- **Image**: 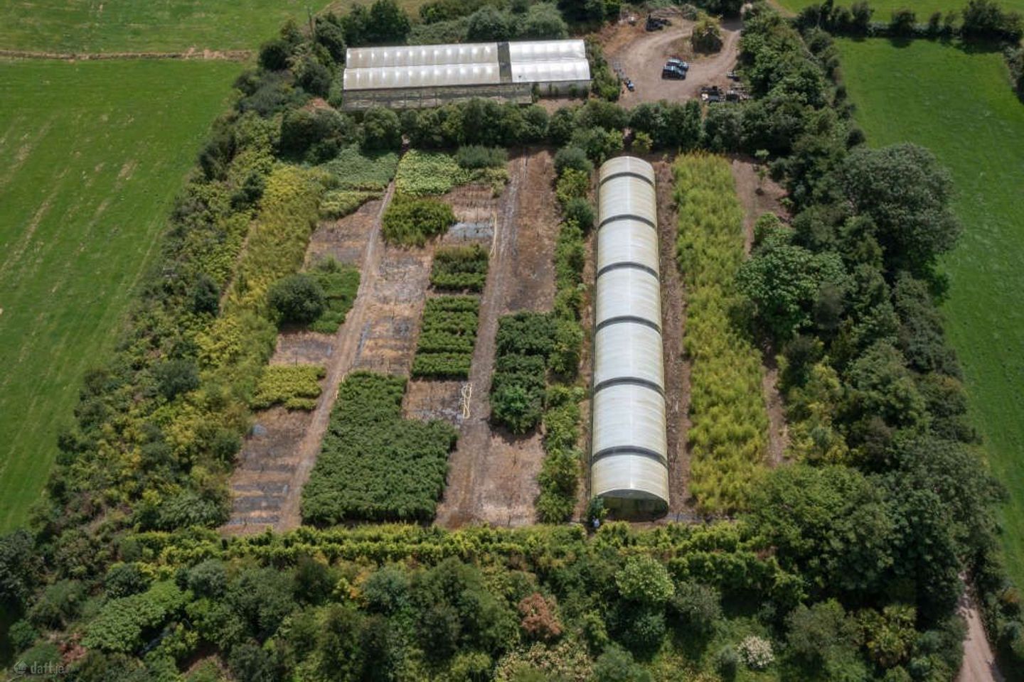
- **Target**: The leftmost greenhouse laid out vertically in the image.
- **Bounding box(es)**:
[589,156,671,510]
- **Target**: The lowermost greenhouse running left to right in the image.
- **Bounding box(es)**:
[343,36,591,112]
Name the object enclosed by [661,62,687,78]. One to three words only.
car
